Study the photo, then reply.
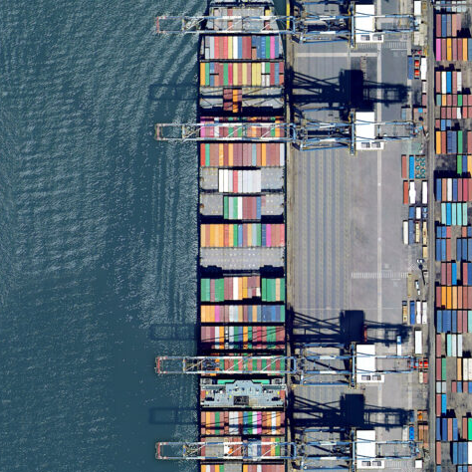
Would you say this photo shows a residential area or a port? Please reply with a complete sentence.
The area seen from above is a port.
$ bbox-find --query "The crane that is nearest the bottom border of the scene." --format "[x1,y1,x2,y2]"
[157,424,418,472]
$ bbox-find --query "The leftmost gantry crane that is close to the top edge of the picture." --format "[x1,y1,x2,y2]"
[157,1,417,49]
